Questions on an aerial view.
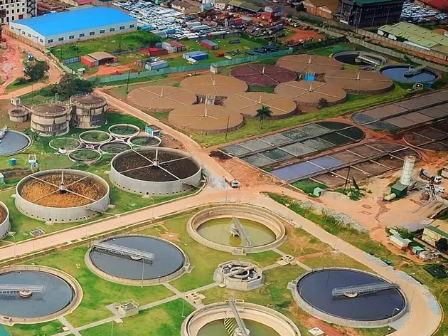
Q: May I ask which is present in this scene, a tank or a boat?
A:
tank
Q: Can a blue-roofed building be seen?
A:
Yes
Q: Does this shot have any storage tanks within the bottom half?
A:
Yes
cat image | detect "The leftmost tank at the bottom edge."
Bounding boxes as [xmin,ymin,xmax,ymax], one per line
[0,265,82,332]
